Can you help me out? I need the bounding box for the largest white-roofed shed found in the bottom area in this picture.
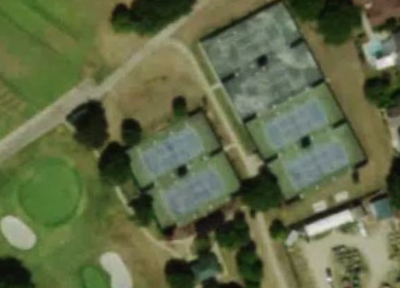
[305,209,353,236]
